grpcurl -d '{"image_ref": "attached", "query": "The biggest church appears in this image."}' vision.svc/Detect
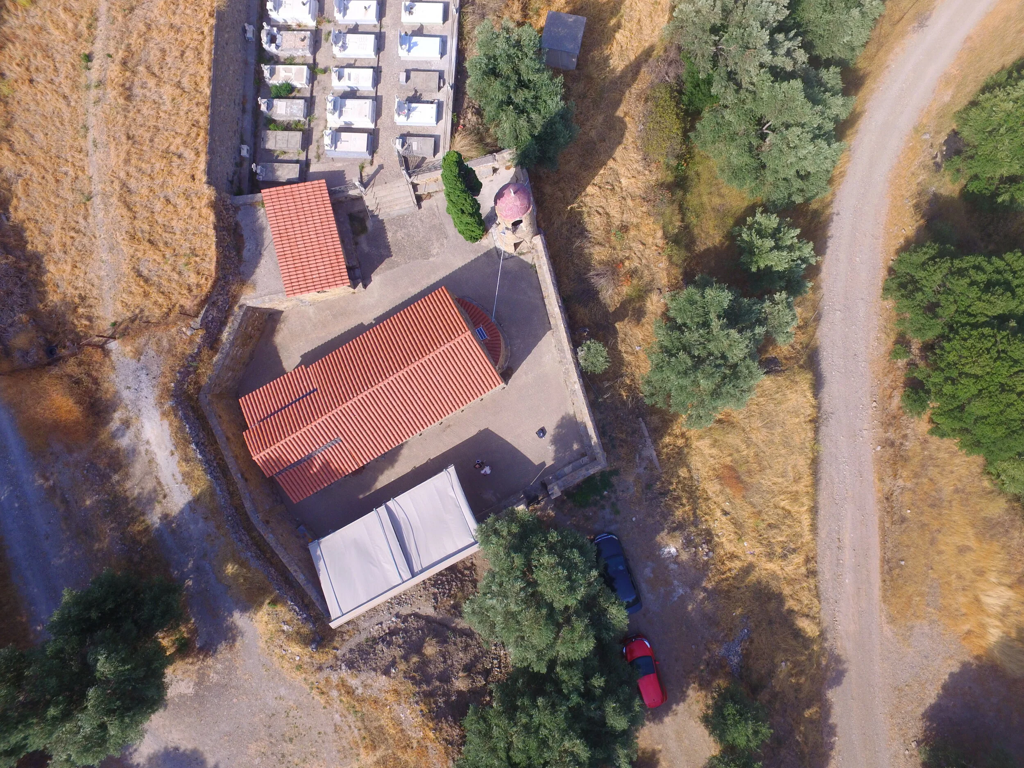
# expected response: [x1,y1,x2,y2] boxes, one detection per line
[237,283,504,506]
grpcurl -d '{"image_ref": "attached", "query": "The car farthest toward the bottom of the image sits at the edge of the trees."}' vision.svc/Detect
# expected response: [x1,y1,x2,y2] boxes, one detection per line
[622,634,673,716]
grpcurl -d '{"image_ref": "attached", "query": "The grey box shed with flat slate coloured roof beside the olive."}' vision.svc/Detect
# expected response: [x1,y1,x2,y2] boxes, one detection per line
[541,11,586,75]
